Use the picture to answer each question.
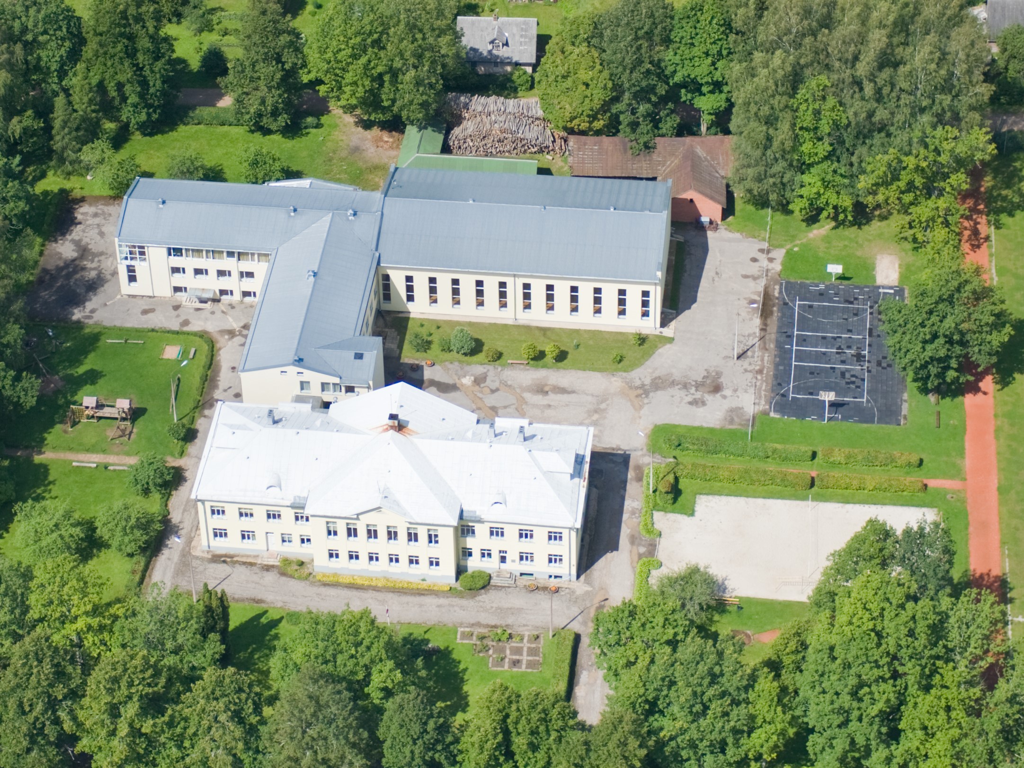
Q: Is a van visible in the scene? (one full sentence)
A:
No, no van is visible in the scene.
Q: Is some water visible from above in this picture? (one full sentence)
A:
No, the scene doesn't show any water.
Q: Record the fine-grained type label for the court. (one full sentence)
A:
The court appears to be a basketball court.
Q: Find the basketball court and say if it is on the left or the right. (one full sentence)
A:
You can find the basketball court on the right side of the picture.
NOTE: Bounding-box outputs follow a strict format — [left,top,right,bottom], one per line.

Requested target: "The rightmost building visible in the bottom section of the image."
[191,380,596,588]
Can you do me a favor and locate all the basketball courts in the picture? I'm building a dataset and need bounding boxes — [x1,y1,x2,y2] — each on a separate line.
[771,280,907,424]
